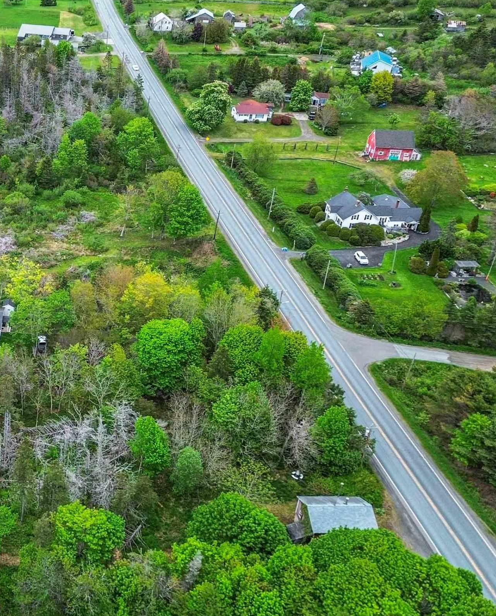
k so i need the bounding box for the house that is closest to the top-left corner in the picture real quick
[16,22,79,47]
